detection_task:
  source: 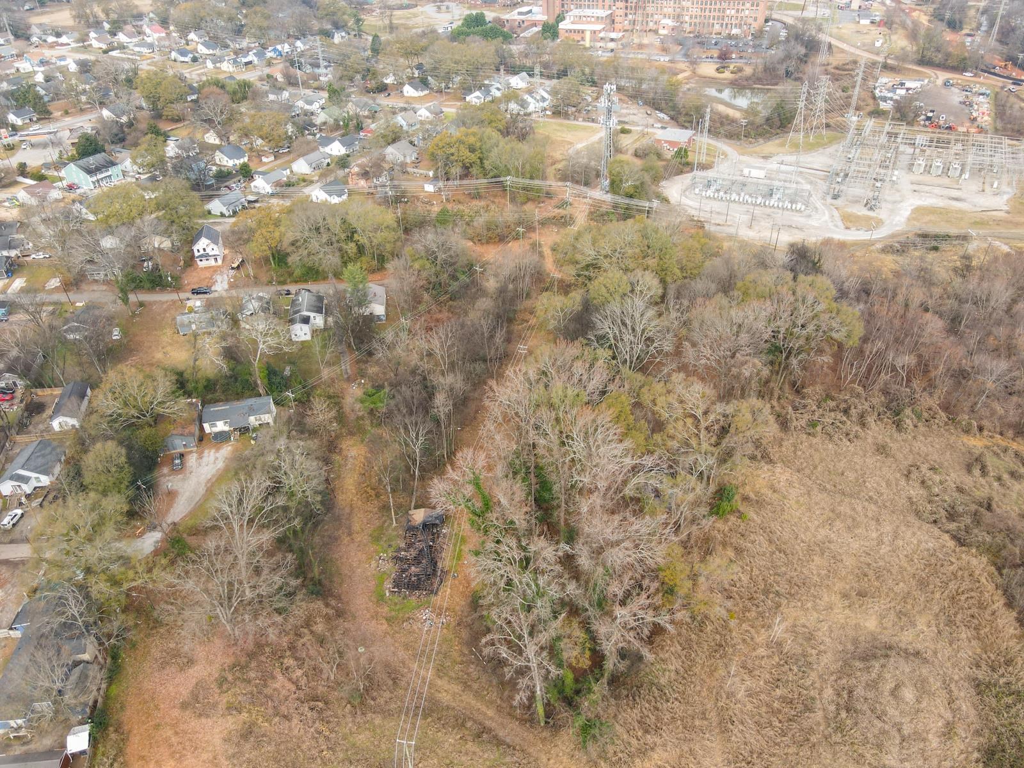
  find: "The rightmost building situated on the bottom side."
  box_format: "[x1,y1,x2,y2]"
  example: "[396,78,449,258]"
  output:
[377,506,453,602]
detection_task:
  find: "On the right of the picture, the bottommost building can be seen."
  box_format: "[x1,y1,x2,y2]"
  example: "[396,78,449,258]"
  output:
[653,131,694,152]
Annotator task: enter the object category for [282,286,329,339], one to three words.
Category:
house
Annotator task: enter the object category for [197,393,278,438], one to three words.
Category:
house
